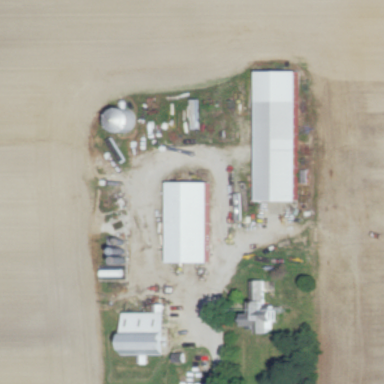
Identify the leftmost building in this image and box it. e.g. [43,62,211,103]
[113,304,168,366]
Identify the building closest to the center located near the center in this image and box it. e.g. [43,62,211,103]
[162,182,209,264]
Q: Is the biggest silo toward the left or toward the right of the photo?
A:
left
